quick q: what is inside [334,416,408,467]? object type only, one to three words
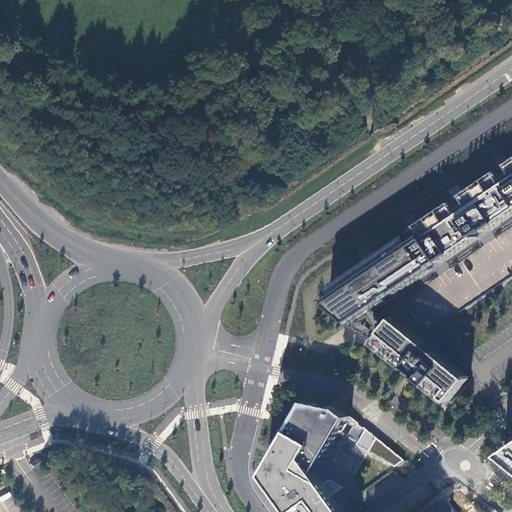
building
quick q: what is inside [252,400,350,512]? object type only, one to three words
building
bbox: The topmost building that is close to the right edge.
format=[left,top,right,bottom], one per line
[318,158,512,321]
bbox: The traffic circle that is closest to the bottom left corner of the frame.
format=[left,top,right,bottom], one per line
[30,254,202,428]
